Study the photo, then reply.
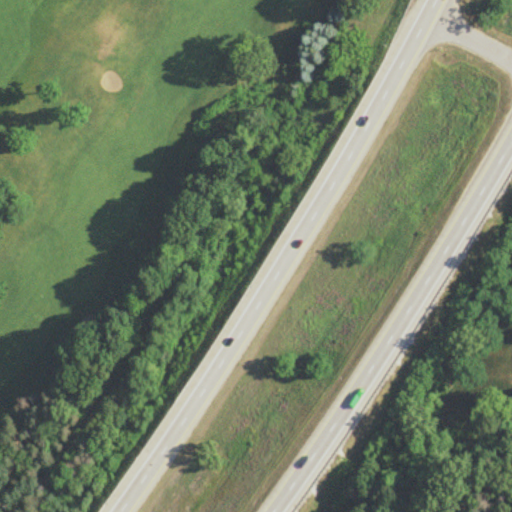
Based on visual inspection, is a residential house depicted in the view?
No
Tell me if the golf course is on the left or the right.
left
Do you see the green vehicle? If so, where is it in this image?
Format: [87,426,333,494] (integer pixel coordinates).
[349,388,365,409]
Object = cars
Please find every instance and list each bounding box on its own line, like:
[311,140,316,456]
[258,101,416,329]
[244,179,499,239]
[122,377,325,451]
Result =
[360,115,368,126]
[298,456,308,467]
[225,336,234,346]
[295,238,304,249]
